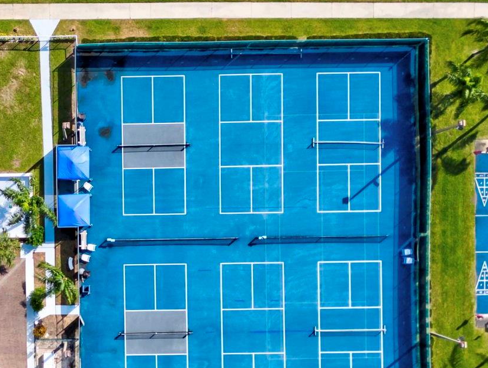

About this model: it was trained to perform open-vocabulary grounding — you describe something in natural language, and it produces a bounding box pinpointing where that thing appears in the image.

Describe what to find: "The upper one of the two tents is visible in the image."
[59,147,90,182]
